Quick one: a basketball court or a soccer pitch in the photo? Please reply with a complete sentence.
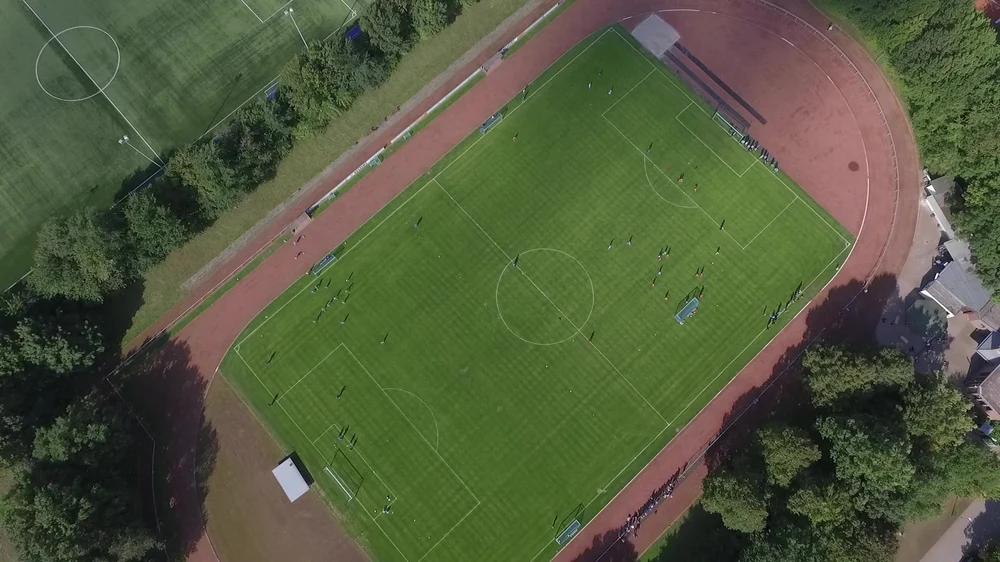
There is a soccer pitch in the scene.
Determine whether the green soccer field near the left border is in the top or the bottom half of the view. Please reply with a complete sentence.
The top half of the photo is where the green soccer field near the left border is.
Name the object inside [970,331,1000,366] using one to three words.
building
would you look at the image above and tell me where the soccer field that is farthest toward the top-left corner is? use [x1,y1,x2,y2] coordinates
[0,0,381,310]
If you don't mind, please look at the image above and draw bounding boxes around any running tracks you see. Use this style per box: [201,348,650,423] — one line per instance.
[152,0,896,562]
